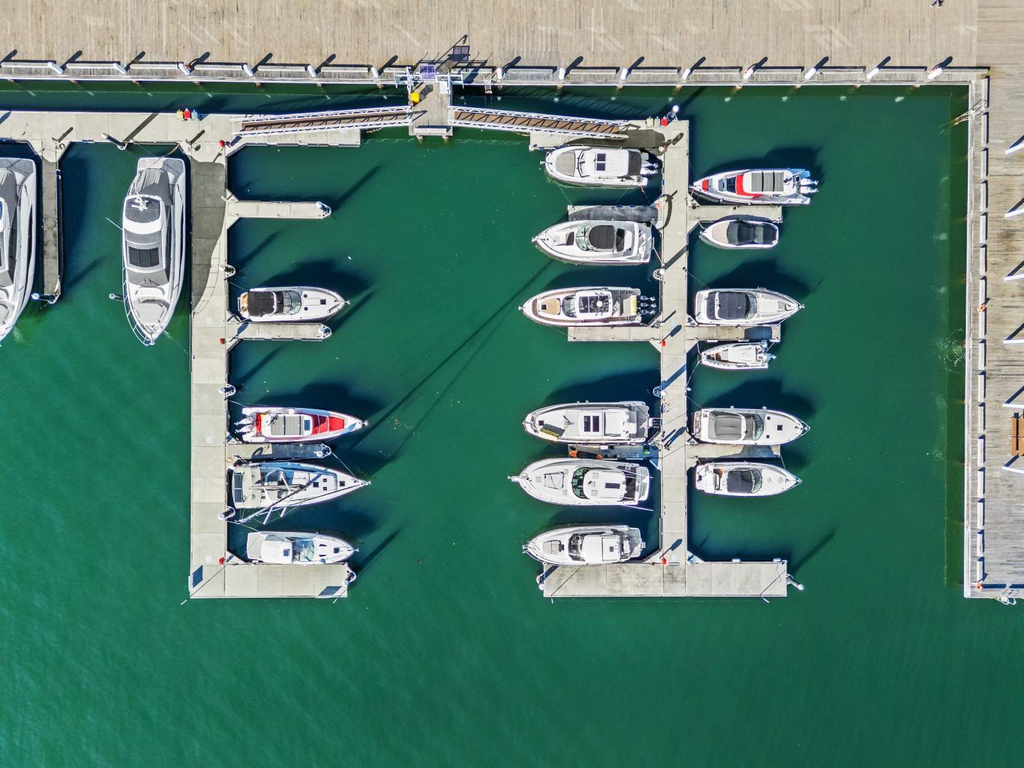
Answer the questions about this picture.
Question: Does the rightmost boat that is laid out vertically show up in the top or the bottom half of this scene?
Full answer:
Seen from above, the rightmost boat that is laid out vertically lies in the top half of the view.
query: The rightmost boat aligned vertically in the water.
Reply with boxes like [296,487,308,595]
[106,158,190,343]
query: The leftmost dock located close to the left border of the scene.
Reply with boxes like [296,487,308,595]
[0,111,361,598]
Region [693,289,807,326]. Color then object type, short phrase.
white boat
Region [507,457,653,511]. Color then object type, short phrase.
white boat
